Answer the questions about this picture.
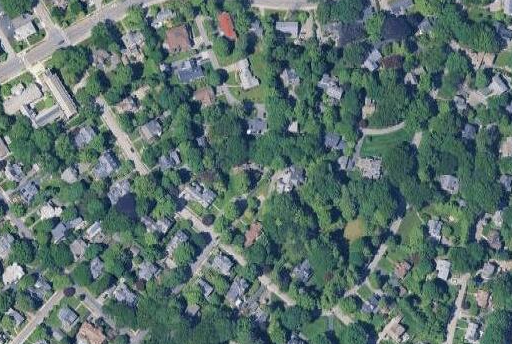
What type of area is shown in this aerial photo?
residential area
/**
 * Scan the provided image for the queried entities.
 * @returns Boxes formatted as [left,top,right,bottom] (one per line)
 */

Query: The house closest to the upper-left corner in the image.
[12,18,38,41]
